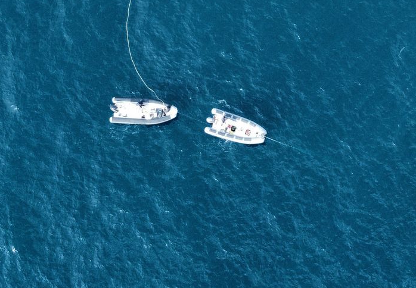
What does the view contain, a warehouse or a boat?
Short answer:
boat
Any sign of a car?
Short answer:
No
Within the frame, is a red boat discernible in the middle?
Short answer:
No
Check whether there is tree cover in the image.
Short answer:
No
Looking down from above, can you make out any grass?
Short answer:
No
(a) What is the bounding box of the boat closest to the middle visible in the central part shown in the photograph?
[207,109,267,144]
